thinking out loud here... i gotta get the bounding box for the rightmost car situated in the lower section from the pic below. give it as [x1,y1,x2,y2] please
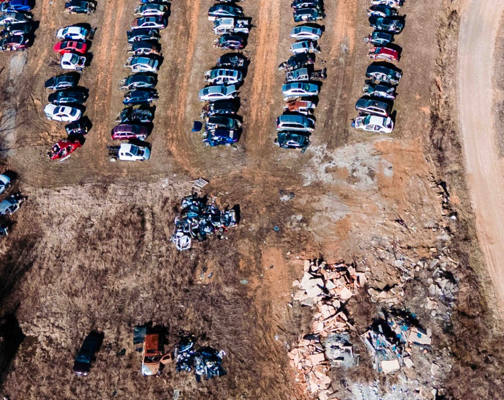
[142,330,169,377]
